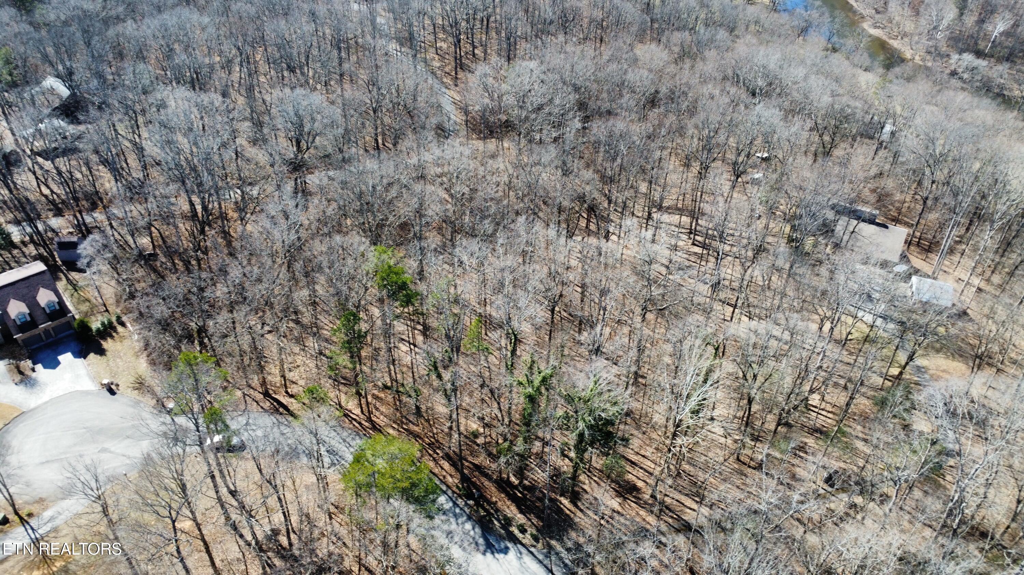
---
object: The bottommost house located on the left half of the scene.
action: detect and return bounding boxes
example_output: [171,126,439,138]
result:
[0,258,74,354]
